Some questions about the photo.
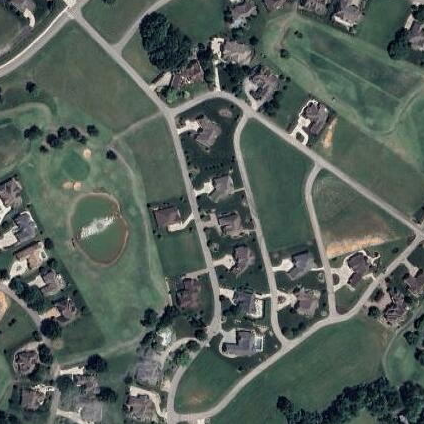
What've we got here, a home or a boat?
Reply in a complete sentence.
This aerial view contains a home.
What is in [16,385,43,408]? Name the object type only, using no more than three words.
house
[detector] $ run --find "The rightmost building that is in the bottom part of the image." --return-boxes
[404,267,424,296]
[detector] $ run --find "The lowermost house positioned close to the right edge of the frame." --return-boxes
[378,289,415,322]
